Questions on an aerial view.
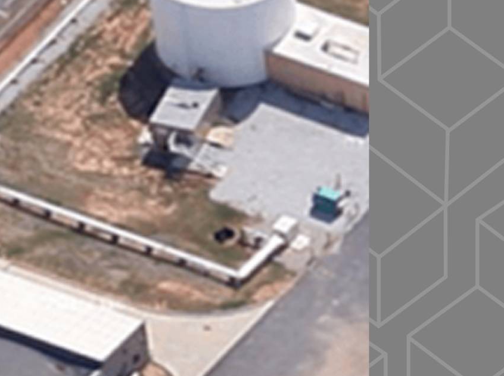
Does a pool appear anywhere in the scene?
No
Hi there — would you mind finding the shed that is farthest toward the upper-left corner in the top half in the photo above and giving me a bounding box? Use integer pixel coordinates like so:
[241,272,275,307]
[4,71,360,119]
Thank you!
[150,85,219,157]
